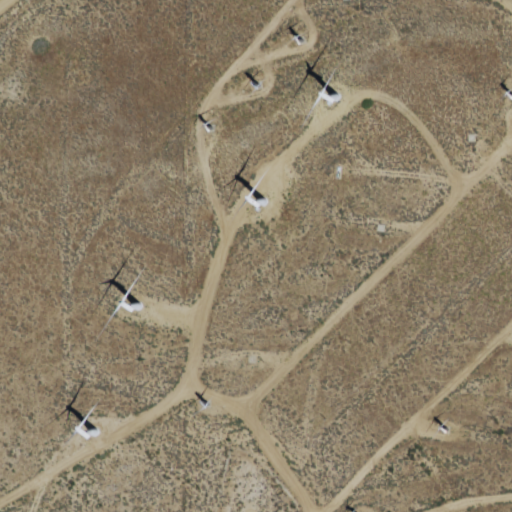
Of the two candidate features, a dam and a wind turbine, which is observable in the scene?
wind turbine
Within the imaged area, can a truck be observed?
No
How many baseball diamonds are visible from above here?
0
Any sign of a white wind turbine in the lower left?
Yes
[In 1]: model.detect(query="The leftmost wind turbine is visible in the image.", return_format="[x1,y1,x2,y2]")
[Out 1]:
[56,406,100,450]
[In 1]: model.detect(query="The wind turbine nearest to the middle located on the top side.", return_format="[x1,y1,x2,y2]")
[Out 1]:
[228,168,268,214]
